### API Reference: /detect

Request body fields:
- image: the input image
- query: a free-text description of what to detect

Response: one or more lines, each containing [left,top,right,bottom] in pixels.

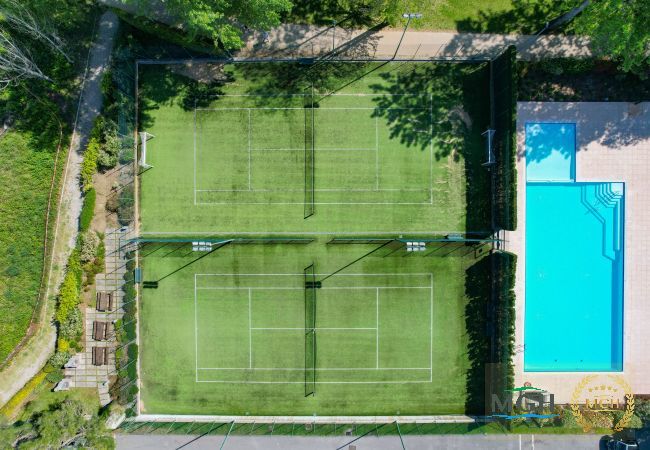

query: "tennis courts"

[139,236,492,415]
[139,62,492,236]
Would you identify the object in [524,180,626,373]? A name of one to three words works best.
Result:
swimming pool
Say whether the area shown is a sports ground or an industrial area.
sports ground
